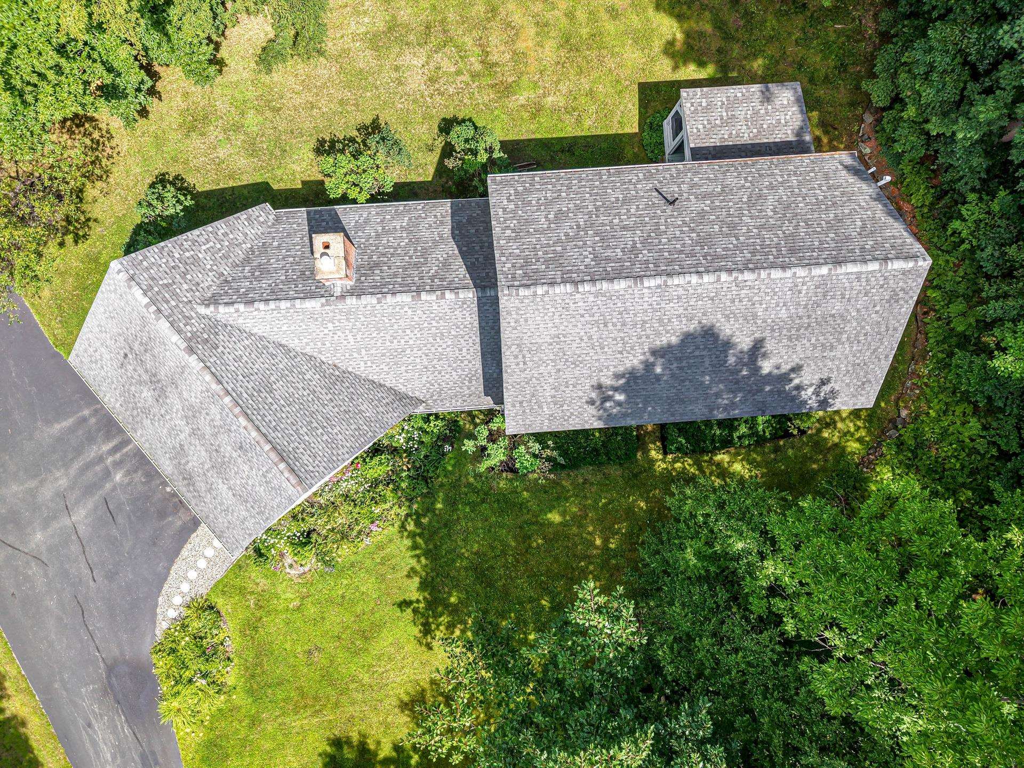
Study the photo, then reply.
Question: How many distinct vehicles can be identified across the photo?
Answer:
none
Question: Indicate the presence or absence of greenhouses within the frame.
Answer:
No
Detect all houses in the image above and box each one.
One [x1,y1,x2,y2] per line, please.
[68,83,933,559]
